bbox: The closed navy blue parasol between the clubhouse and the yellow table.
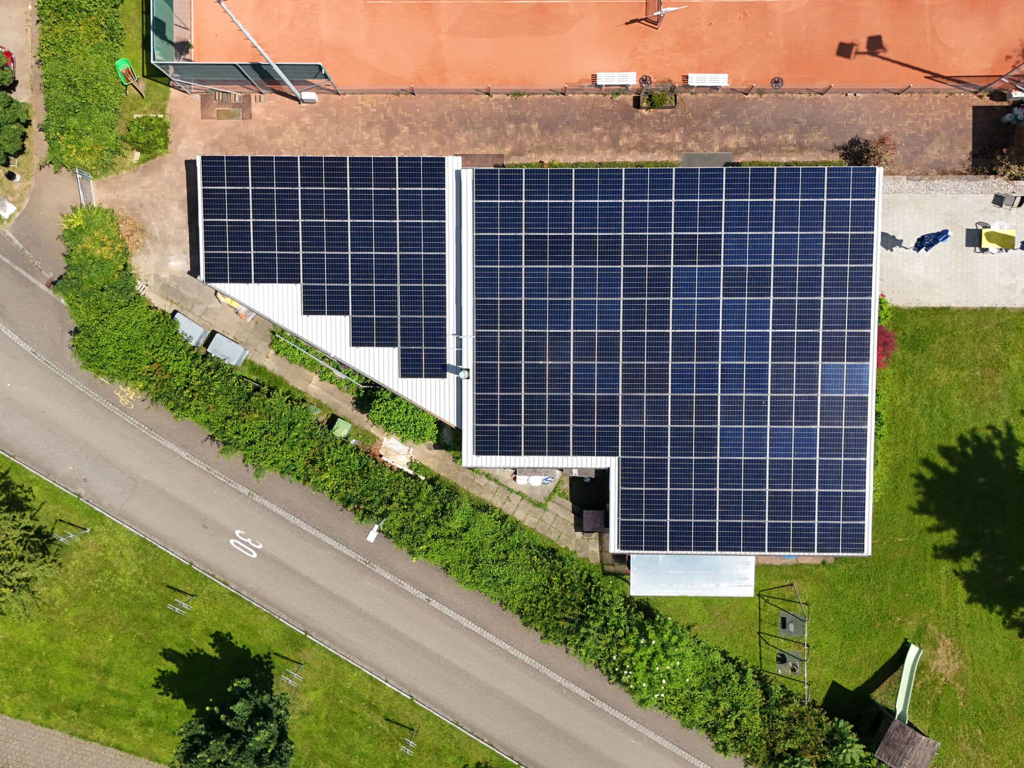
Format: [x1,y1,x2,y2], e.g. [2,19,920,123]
[902,229,953,255]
